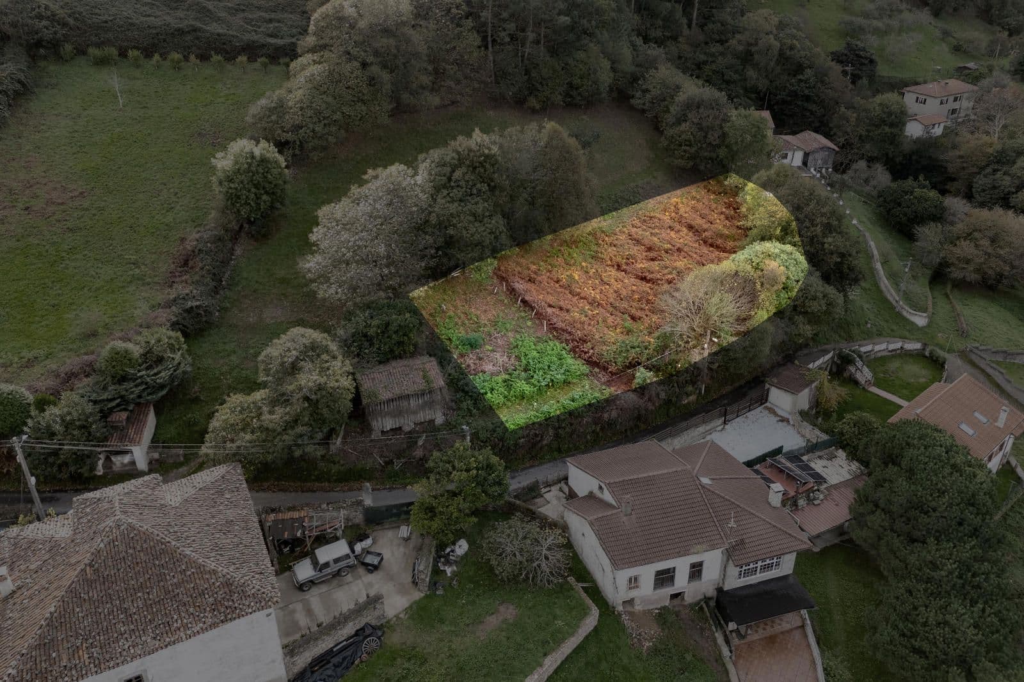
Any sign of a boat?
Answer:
No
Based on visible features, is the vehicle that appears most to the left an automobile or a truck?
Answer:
automobile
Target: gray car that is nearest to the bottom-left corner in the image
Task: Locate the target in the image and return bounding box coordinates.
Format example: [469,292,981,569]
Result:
[281,533,360,591]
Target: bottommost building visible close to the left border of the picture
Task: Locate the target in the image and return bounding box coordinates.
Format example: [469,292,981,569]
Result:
[0,462,286,682]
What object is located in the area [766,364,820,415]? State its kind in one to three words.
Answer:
building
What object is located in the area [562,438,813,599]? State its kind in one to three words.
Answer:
house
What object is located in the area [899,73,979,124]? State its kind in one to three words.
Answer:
house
